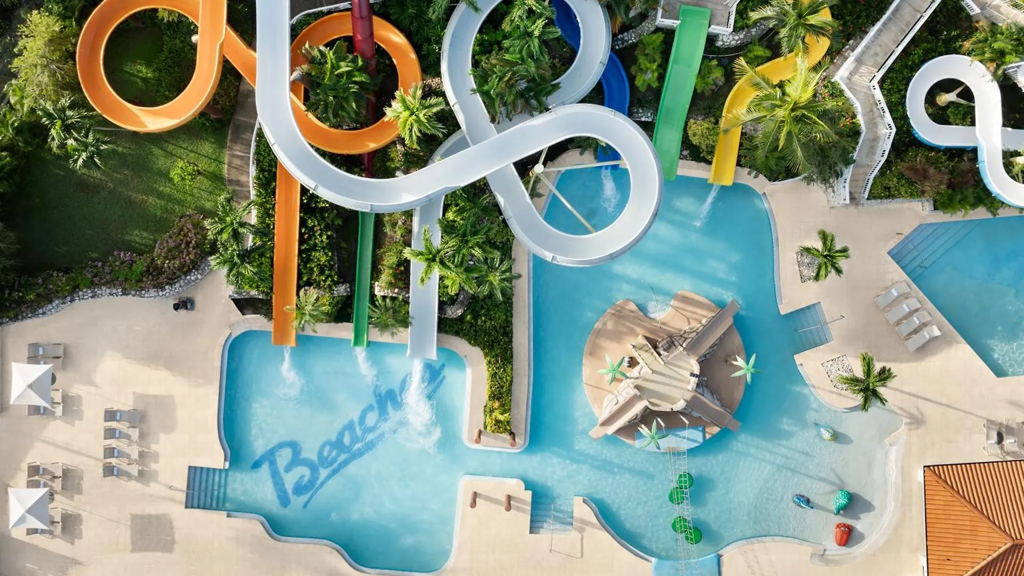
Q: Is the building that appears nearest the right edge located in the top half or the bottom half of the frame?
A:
bottom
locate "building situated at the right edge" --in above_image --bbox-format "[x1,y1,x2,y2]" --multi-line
[910,457,1024,576]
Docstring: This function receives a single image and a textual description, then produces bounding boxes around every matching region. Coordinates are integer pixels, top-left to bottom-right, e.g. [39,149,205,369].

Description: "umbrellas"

[13,363,67,405]
[10,487,64,529]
